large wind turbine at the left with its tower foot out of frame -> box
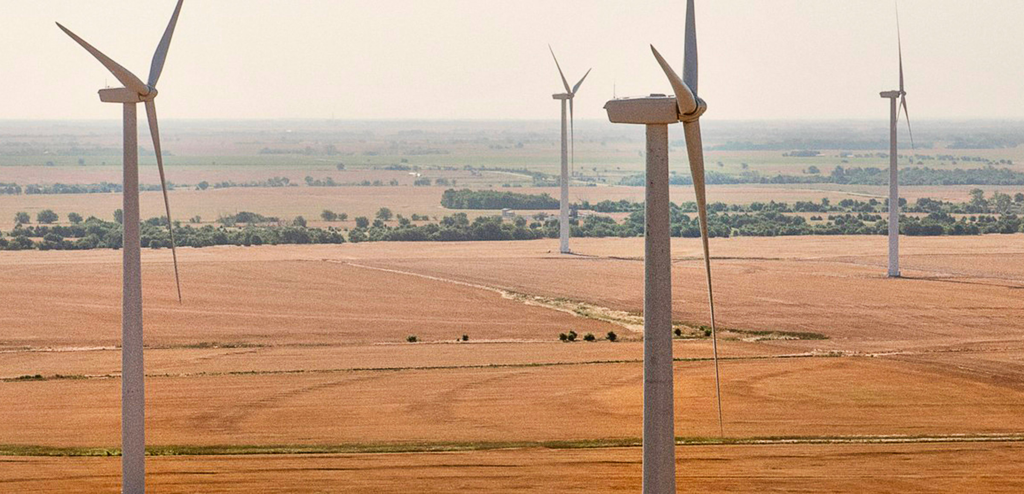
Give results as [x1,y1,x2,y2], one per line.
[50,0,183,494]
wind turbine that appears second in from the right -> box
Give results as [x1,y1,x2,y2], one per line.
[602,0,720,494]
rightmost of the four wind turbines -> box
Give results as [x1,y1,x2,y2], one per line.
[879,0,912,277]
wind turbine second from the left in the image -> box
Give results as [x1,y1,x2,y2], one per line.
[547,42,589,254]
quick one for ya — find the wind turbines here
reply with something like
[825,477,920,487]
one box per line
[547,42,589,254]
[602,0,720,494]
[879,0,912,277]
[50,0,183,494]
